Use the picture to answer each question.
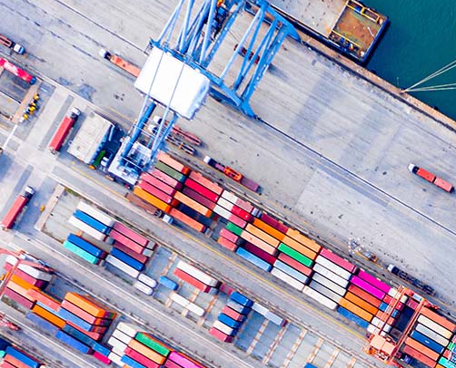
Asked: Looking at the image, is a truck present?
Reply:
Yes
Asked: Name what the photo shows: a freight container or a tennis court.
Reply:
freight container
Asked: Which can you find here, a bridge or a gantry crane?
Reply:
gantry crane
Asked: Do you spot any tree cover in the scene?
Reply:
No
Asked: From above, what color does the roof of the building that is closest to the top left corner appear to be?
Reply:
white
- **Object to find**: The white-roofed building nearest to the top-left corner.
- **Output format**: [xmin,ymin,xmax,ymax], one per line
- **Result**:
[67,112,124,168]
